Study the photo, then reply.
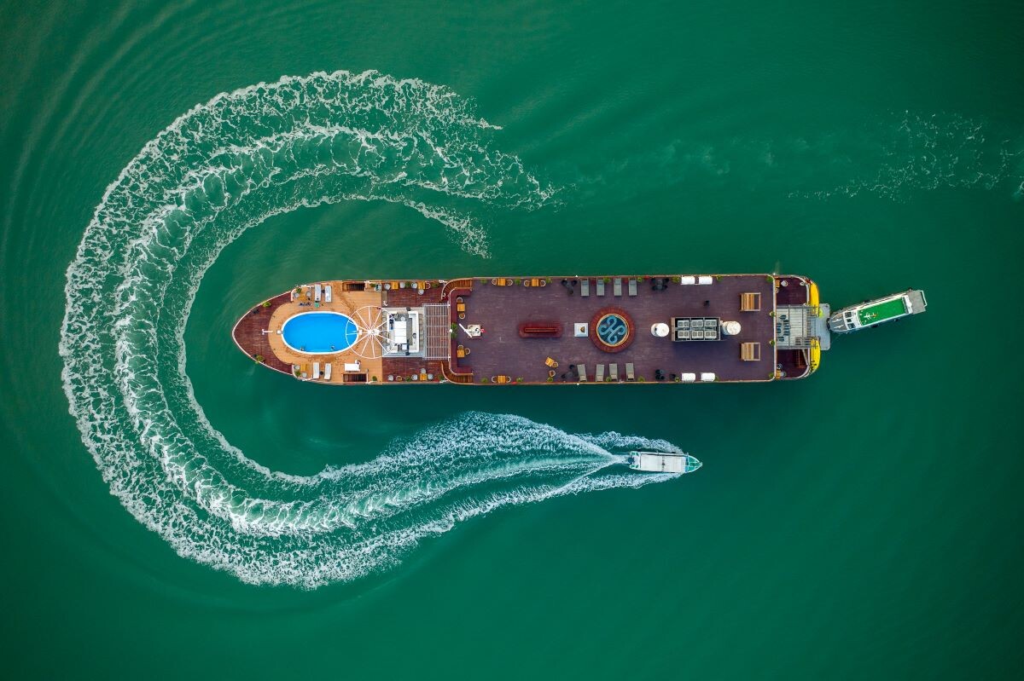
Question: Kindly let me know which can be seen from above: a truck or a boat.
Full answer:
It is a boat that can be seen here.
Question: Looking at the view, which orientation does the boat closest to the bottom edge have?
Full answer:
From this overhead view, the boat closest to the bottom edge appears to run from side to side.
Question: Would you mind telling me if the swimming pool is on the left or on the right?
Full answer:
The swimming pool is on the left side of the image.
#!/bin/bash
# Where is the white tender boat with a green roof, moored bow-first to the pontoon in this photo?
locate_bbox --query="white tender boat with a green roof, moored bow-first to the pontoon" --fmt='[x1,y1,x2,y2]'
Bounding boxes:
[824,288,927,336]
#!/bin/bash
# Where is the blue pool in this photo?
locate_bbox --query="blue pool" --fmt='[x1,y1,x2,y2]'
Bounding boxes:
[276,311,362,354]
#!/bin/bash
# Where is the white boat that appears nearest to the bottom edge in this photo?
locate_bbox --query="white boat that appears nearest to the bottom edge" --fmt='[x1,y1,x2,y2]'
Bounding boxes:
[627,449,702,474]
